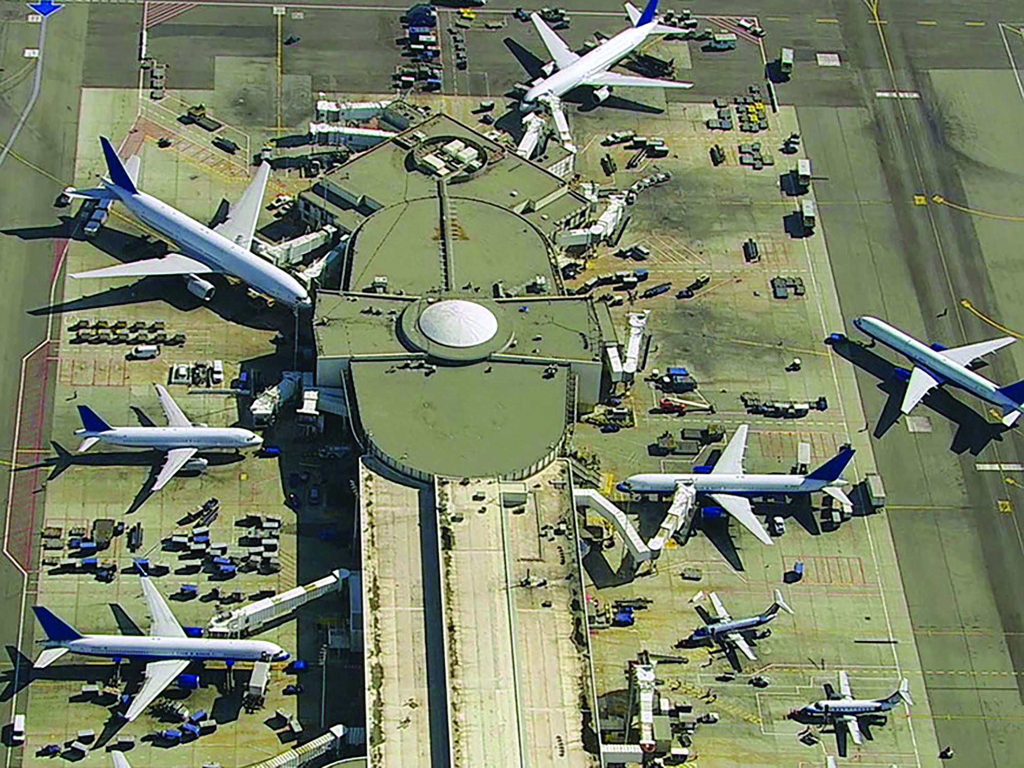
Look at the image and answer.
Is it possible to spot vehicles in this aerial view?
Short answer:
Yes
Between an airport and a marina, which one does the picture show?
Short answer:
airport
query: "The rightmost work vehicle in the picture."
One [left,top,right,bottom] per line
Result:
[936,748,955,763]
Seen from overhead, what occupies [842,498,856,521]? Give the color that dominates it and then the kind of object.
white vehicle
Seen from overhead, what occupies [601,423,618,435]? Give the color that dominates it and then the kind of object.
black vehicle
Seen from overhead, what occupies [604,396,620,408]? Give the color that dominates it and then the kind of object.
black vehicle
